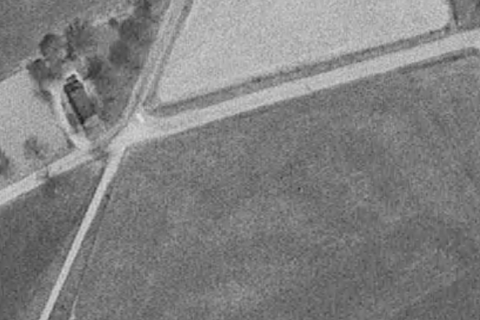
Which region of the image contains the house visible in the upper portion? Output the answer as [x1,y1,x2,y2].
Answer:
[67,75,97,119]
